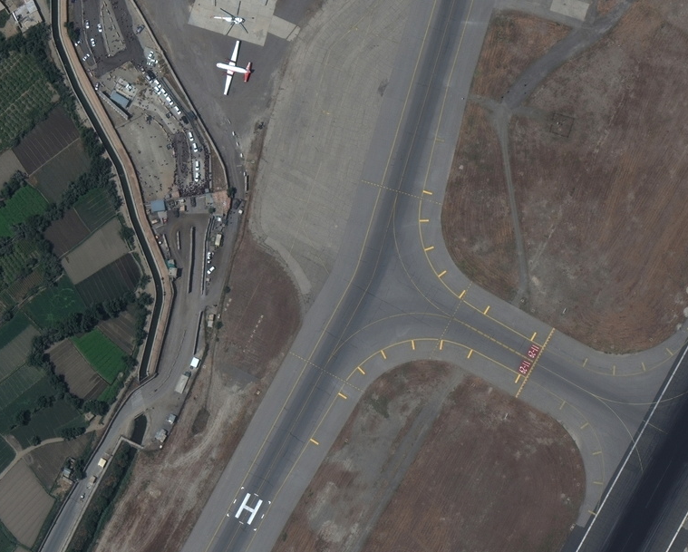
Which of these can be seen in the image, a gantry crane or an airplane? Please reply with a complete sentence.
I can see an airplane in this picture.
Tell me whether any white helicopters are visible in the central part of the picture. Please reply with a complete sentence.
No, no white helicopter is visible in the central part of the picture.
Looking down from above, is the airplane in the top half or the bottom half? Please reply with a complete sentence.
It is in the top half that the airplane appears.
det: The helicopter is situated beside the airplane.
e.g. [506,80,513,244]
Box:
[209,2,252,34]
